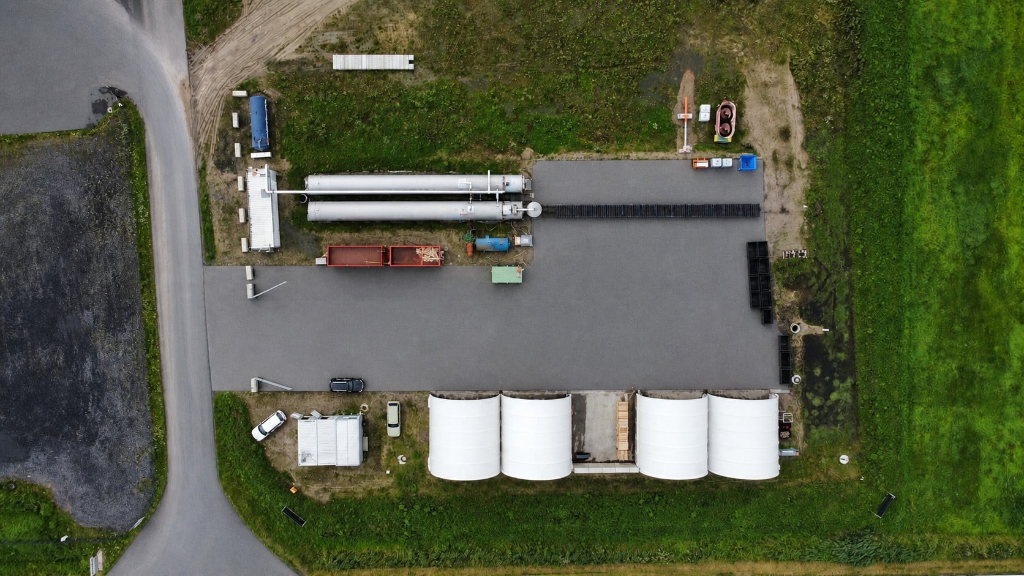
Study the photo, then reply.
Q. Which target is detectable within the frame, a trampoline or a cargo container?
cargo container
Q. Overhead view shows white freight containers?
Yes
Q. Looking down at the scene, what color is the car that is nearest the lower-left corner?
white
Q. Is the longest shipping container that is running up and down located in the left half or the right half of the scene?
left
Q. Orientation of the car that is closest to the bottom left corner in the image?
at an angle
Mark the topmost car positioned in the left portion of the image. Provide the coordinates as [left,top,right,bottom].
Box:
[330,376,365,394]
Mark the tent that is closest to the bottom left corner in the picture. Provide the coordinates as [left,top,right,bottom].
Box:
[428,395,501,481]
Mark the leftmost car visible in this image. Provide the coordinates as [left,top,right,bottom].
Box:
[252,409,287,441]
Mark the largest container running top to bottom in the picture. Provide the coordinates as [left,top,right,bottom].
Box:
[247,167,286,252]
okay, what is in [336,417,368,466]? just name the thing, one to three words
building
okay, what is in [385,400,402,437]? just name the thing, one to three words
car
